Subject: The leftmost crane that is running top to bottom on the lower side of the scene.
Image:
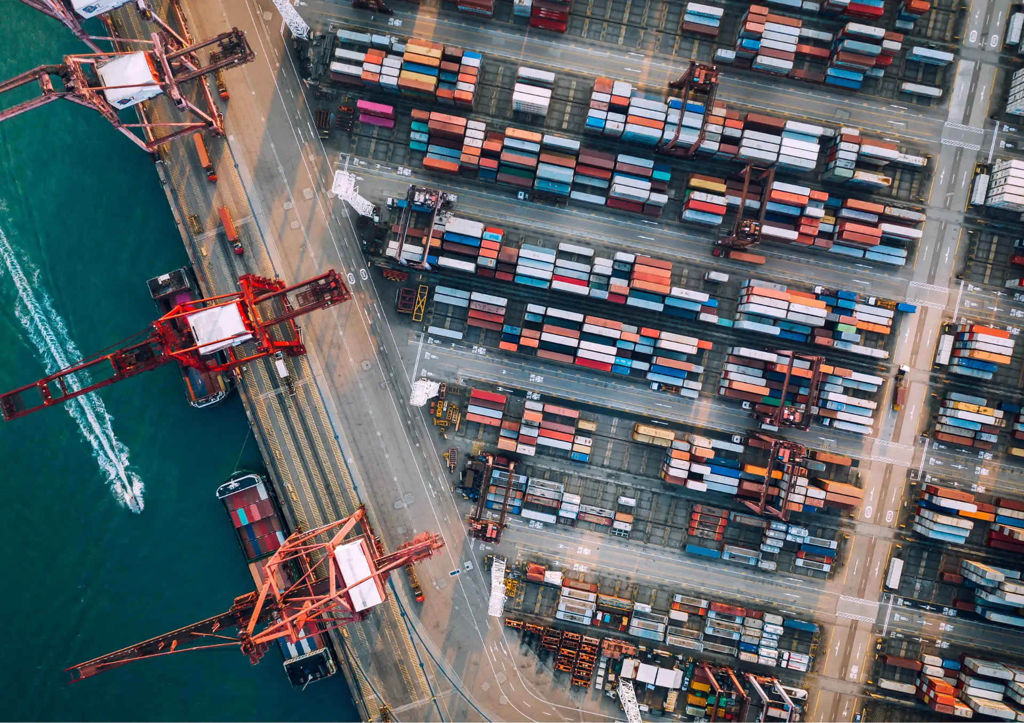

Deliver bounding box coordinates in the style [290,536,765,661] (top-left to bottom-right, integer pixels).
[466,456,521,551]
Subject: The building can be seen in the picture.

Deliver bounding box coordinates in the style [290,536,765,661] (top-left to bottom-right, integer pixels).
[618,656,684,689]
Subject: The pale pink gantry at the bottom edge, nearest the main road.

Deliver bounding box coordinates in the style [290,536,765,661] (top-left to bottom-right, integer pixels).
[740,674,797,723]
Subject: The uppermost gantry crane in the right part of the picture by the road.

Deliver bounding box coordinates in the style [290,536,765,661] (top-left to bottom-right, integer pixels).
[667,50,719,151]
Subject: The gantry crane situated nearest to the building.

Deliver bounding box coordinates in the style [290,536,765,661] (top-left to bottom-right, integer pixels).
[701,667,750,723]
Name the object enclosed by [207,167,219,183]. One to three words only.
vehicle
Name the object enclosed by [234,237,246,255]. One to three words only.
vehicle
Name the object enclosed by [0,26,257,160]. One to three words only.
container crane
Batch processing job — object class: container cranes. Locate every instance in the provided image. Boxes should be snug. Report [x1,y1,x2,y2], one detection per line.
[701,667,750,723]
[751,351,825,439]
[735,433,806,521]
[399,180,450,270]
[740,674,797,723]
[61,499,445,685]
[0,26,257,160]
[0,269,355,424]
[0,0,192,63]
[466,456,521,551]
[667,50,719,151]
[711,163,778,251]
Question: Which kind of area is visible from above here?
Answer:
port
